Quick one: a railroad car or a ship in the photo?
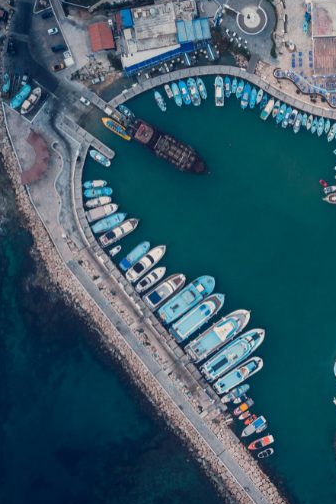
ship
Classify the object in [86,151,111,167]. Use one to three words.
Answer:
boat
